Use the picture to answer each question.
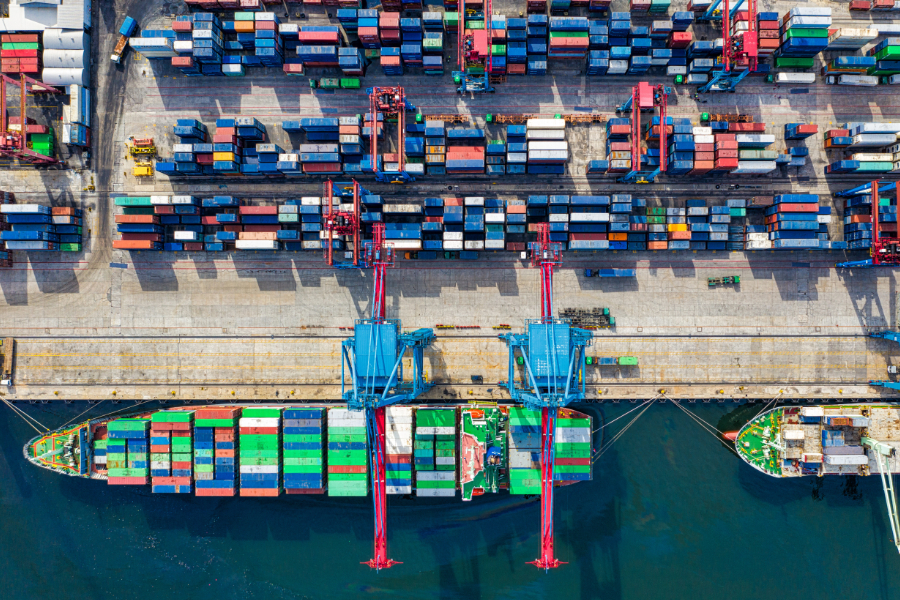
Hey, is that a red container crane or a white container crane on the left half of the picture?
red container crane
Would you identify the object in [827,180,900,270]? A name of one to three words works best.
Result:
container crane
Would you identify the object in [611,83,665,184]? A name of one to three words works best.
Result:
container crane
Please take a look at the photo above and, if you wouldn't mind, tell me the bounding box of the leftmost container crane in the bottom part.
[336,221,436,575]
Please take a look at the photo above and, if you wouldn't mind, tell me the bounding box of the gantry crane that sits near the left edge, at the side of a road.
[0,72,72,170]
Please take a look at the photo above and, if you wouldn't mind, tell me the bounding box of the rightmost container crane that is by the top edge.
[692,0,753,92]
